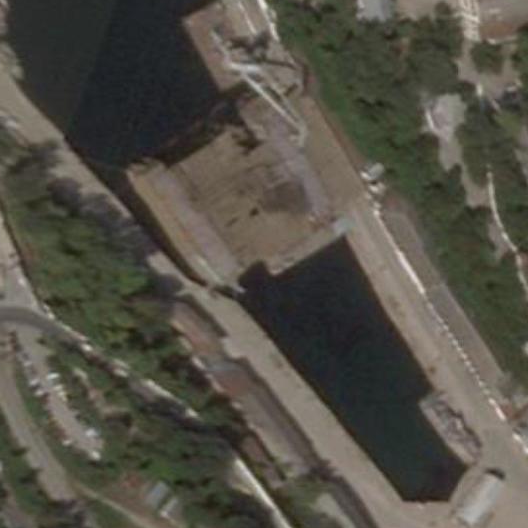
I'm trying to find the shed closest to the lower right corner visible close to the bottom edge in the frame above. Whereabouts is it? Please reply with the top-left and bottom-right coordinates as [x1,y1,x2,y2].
[455,471,505,528]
